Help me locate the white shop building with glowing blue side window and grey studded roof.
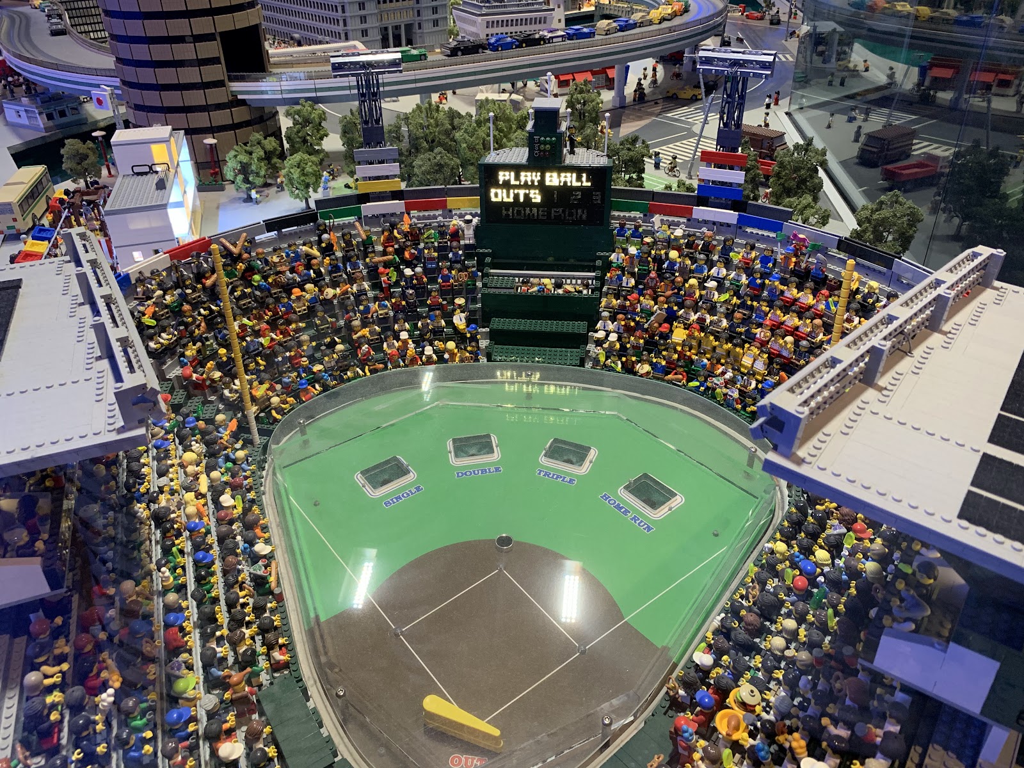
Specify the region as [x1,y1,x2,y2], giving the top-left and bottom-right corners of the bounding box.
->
[100,126,213,277]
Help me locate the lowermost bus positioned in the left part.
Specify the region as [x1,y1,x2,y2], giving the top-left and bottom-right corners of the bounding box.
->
[0,164,49,228]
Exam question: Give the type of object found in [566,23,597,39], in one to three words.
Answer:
car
